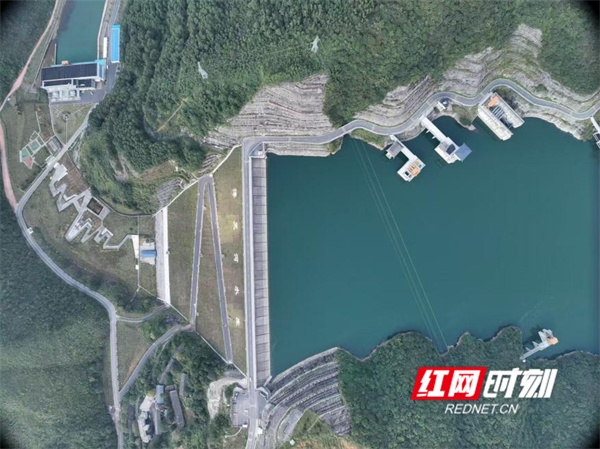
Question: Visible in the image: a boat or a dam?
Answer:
dam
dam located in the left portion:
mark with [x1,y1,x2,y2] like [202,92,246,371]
[155,136,271,385]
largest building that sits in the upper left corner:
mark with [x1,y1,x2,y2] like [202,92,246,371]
[41,59,109,102]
